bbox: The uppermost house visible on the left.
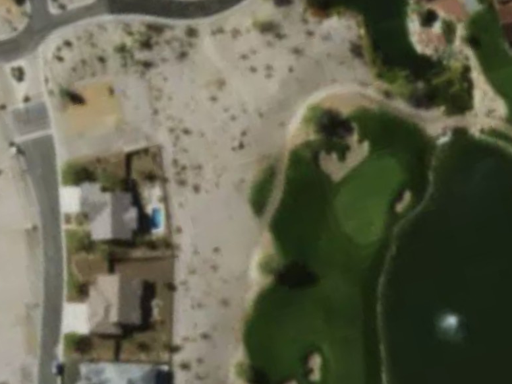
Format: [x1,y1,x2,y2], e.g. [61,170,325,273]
[80,183,138,241]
